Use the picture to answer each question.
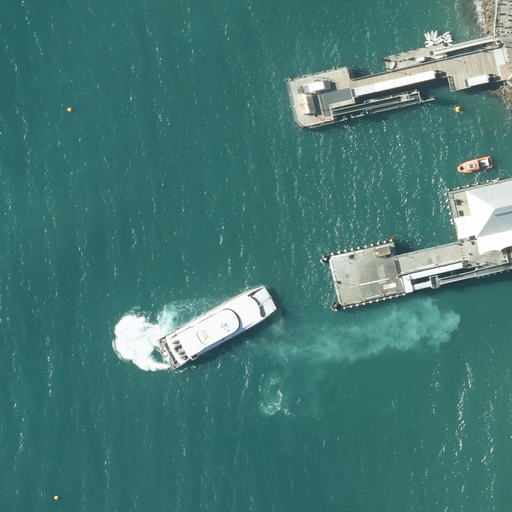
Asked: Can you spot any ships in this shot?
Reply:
Yes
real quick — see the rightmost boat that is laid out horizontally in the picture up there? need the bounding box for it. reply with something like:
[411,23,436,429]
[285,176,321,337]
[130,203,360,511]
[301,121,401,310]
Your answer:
[458,157,494,172]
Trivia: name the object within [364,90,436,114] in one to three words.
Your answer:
pier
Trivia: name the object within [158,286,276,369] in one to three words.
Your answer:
ship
